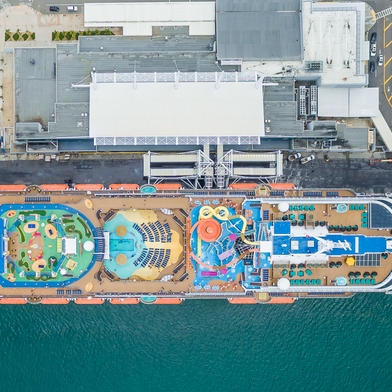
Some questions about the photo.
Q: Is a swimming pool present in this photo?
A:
Yes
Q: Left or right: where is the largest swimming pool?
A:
left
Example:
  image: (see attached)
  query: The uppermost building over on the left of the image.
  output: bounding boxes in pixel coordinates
[84,2,215,36]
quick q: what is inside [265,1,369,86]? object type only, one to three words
building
